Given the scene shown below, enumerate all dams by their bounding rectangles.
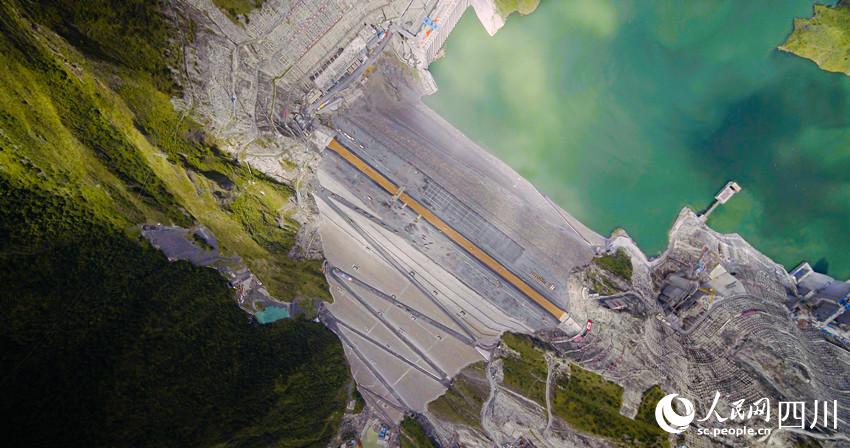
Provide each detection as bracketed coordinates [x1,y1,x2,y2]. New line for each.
[314,58,608,433]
